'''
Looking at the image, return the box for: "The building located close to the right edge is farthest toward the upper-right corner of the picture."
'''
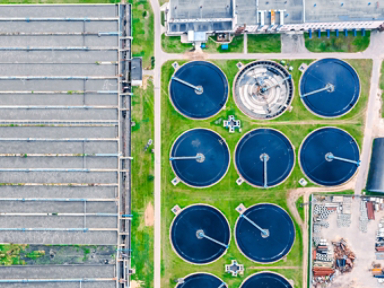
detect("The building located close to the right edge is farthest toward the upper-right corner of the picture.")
[293,0,384,38]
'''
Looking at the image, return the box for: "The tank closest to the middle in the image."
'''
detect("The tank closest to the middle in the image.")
[169,128,230,188]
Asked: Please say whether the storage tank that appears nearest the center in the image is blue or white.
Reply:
blue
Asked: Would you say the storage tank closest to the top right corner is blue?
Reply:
Yes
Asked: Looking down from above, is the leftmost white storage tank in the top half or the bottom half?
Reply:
top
